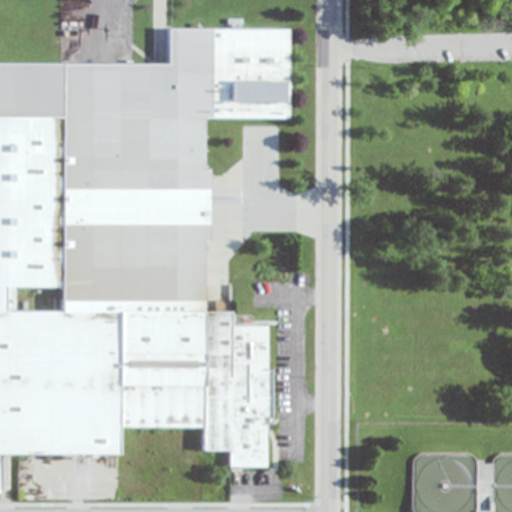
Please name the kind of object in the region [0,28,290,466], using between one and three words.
building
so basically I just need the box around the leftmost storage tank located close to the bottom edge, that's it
[412,453,476,512]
